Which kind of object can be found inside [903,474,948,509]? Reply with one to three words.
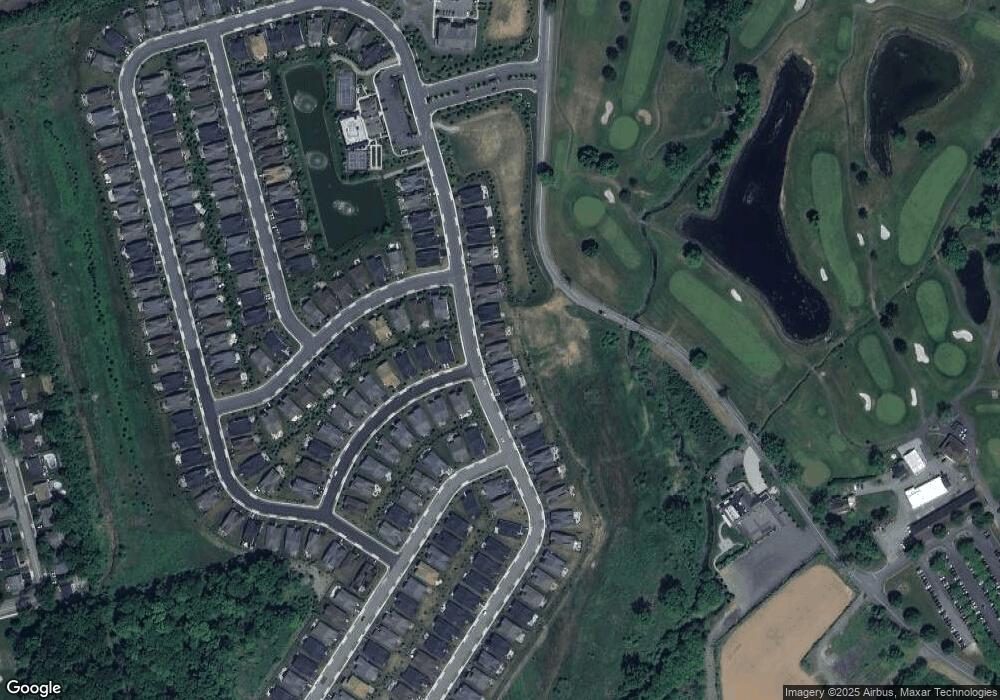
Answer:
barn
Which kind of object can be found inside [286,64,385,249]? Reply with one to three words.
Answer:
pond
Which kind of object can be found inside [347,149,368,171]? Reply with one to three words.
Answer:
sports court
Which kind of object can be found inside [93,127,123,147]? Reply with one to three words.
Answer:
house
